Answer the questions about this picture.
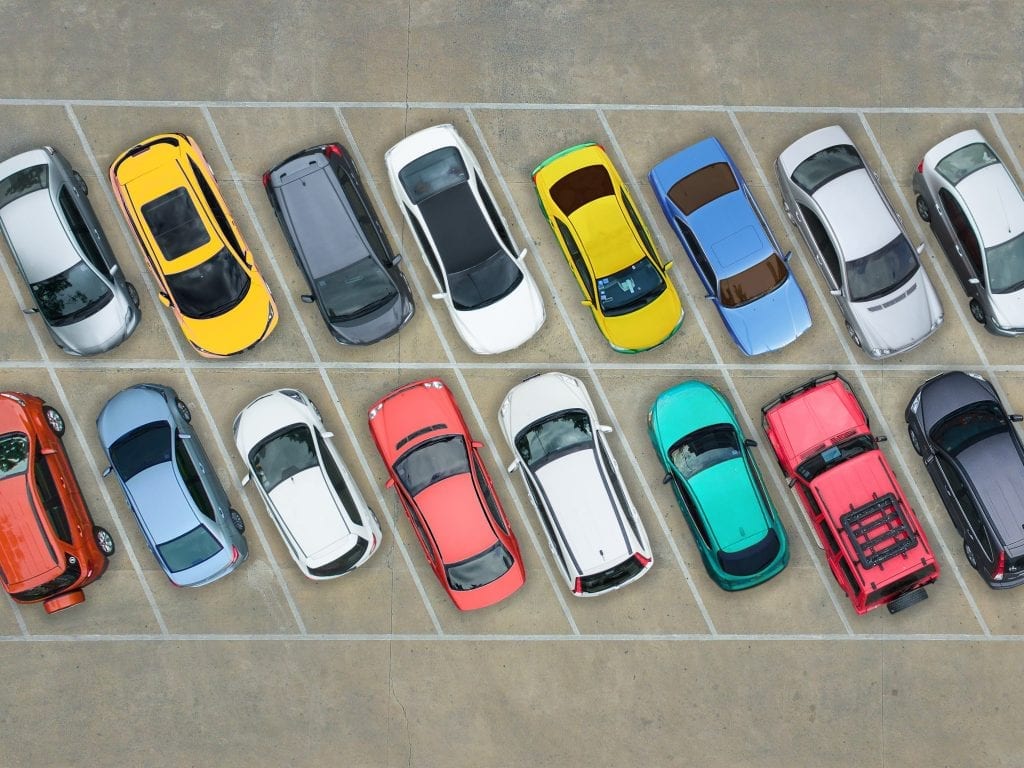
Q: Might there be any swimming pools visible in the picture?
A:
No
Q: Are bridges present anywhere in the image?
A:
No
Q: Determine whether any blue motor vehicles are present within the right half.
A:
Yes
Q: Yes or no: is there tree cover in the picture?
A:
No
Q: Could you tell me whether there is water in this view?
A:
No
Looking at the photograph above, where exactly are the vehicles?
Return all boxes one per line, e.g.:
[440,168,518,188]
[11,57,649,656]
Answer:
[500,372,650,598]
[0,142,143,353]
[773,127,946,360]
[762,373,938,613]
[649,380,787,593]
[911,131,1024,339]
[902,372,1024,588]
[387,124,543,355]
[532,146,678,356]
[233,387,380,584]
[94,383,247,591]
[646,141,809,357]
[0,395,113,613]
[112,130,277,357]
[369,380,526,612]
